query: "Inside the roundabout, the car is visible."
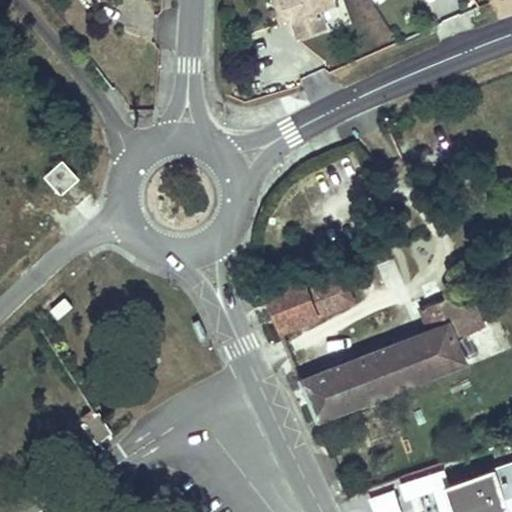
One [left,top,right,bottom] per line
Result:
[166,254,184,272]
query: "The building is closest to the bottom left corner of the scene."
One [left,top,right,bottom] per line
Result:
[80,412,112,444]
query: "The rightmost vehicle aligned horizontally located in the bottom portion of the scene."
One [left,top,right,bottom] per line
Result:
[328,339,352,352]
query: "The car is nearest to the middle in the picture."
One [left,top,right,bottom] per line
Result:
[224,288,236,308]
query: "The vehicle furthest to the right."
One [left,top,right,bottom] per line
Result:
[462,338,476,358]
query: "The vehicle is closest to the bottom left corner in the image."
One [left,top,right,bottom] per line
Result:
[180,478,197,494]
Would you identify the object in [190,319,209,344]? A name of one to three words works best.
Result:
vehicle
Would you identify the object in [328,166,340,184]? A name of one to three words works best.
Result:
vehicle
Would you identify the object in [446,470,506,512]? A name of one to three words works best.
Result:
building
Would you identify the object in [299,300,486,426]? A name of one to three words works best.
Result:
house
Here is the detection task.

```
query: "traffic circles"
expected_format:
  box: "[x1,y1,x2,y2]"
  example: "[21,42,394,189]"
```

[98,121,283,284]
